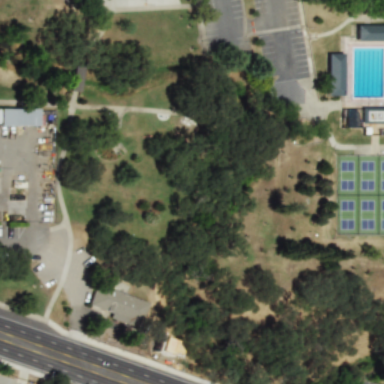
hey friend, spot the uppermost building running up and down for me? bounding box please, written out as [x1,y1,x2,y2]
[330,54,348,96]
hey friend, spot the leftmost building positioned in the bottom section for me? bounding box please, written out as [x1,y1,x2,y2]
[92,290,150,326]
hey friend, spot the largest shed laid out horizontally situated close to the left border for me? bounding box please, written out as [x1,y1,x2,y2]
[4,109,44,126]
